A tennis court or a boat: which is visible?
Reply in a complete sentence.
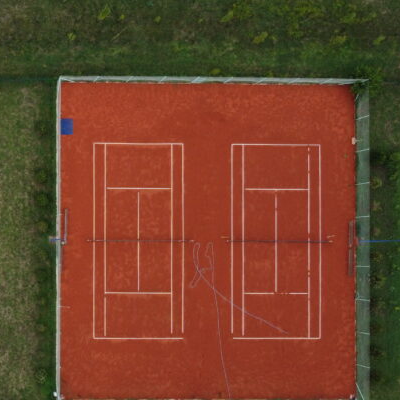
It is a tennis court that can be seen here.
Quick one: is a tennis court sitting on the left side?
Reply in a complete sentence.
Yes, I can see a tennis court on the left side.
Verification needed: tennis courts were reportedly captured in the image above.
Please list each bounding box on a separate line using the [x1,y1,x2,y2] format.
[208,82,357,400]
[57,82,208,400]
